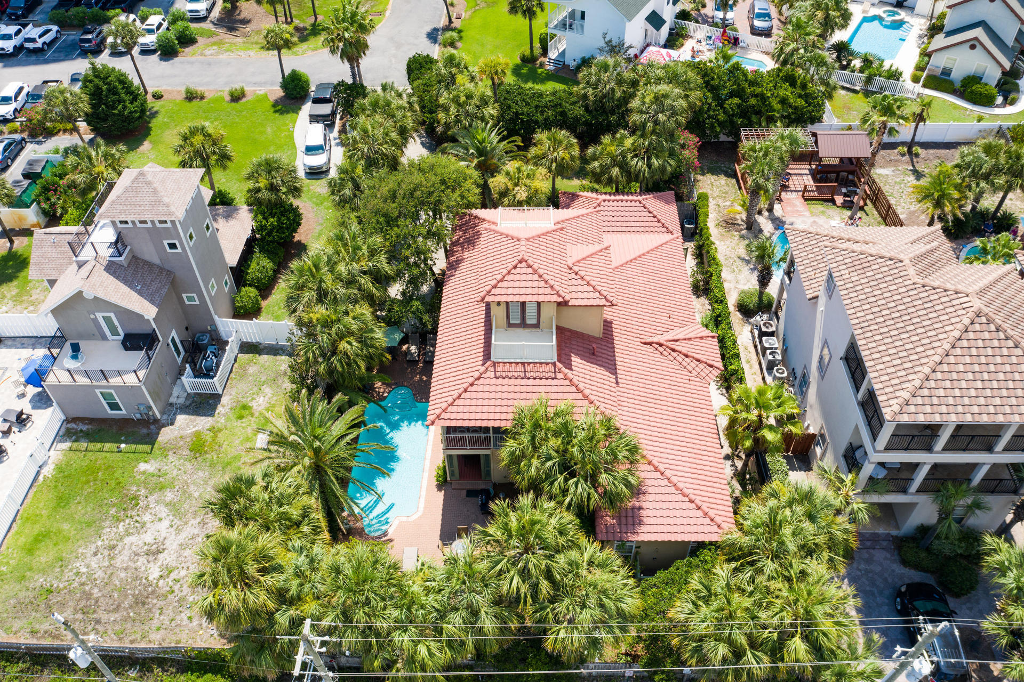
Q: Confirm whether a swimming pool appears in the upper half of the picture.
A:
Yes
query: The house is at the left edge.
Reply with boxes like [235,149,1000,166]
[27,165,260,422]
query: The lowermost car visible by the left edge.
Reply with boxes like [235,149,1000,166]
[0,128,31,166]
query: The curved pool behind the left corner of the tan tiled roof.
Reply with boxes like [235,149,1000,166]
[770,229,799,291]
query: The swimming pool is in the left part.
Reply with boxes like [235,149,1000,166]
[341,381,433,541]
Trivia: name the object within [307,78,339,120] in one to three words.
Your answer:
truck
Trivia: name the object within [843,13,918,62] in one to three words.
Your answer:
swimming pool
